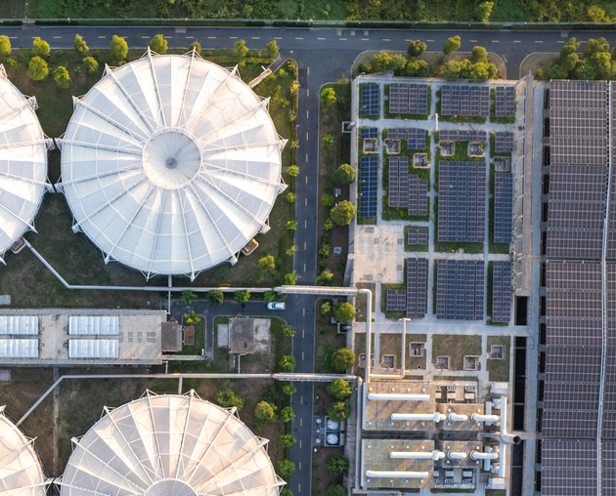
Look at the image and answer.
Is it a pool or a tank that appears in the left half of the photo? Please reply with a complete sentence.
What appears in the left half of the photo is a tank.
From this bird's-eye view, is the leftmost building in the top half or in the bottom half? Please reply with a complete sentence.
The bottom half of the photo is where the leftmost building is.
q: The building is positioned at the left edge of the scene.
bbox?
[0,309,182,364]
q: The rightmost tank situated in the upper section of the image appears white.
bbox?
[57,48,289,282]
